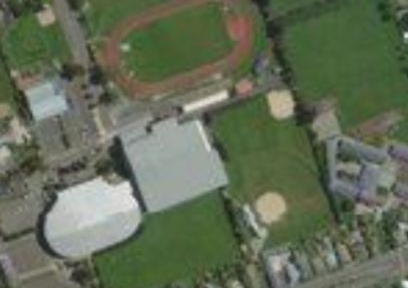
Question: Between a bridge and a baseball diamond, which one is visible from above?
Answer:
baseball diamond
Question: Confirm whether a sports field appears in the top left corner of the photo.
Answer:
Yes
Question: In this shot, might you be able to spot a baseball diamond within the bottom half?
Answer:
Yes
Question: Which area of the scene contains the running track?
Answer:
top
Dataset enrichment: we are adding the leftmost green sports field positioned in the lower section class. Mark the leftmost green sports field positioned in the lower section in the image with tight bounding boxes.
[94,189,242,288]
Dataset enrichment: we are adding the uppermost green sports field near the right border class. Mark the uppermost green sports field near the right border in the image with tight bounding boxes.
[276,0,408,148]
